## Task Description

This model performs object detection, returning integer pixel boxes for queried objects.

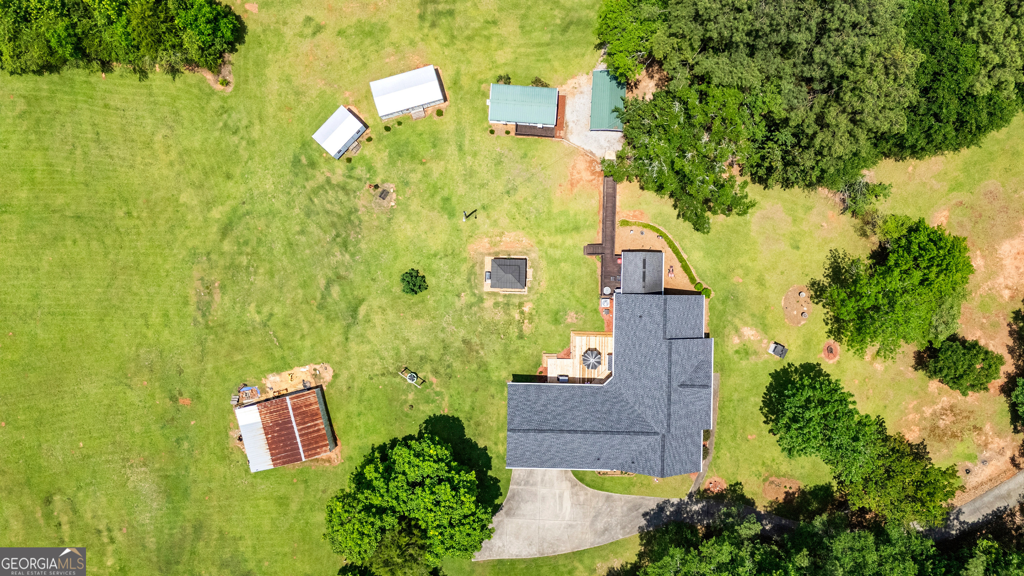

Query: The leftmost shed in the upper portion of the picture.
[312,105,366,159]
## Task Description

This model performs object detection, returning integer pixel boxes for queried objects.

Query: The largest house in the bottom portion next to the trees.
[505,252,715,478]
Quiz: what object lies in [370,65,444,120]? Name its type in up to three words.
shed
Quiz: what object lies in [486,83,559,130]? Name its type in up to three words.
house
